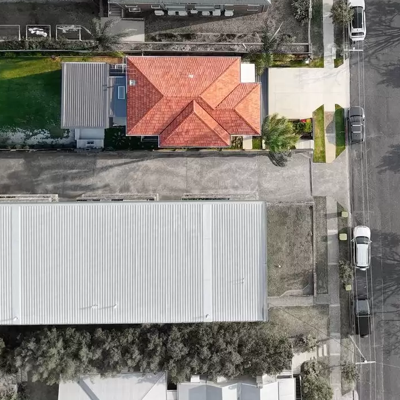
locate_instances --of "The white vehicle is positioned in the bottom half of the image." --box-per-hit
[352,223,373,272]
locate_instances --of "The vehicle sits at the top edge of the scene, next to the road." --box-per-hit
[348,0,368,42]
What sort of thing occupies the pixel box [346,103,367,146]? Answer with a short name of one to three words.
car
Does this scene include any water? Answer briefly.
No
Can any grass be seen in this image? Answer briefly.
Yes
